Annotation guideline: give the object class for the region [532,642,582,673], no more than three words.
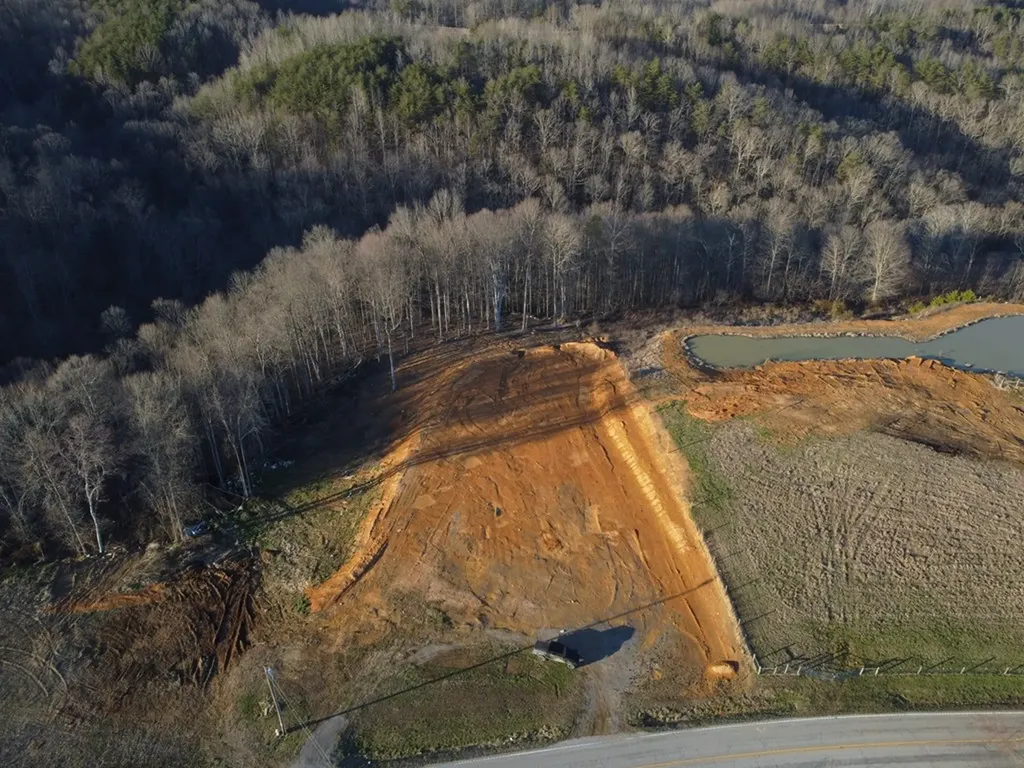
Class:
truck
